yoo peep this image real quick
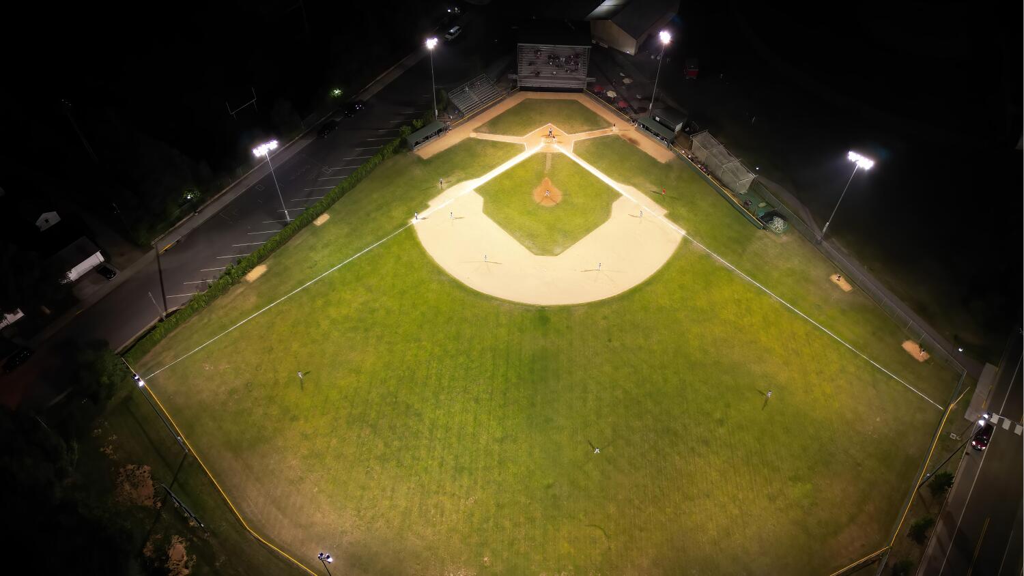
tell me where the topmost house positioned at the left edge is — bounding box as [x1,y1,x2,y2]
[9,188,61,233]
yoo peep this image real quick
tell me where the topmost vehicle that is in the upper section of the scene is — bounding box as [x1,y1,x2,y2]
[443,24,460,39]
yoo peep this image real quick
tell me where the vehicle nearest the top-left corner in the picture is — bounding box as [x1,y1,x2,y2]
[94,262,118,280]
